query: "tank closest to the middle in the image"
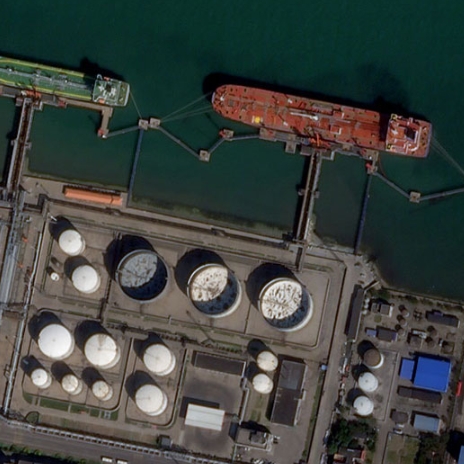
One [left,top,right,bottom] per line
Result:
[187,263,242,317]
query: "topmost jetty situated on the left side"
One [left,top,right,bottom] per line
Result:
[0,86,113,135]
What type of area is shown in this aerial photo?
industrial area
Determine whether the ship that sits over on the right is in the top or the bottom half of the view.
top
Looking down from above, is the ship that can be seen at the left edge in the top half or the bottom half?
top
